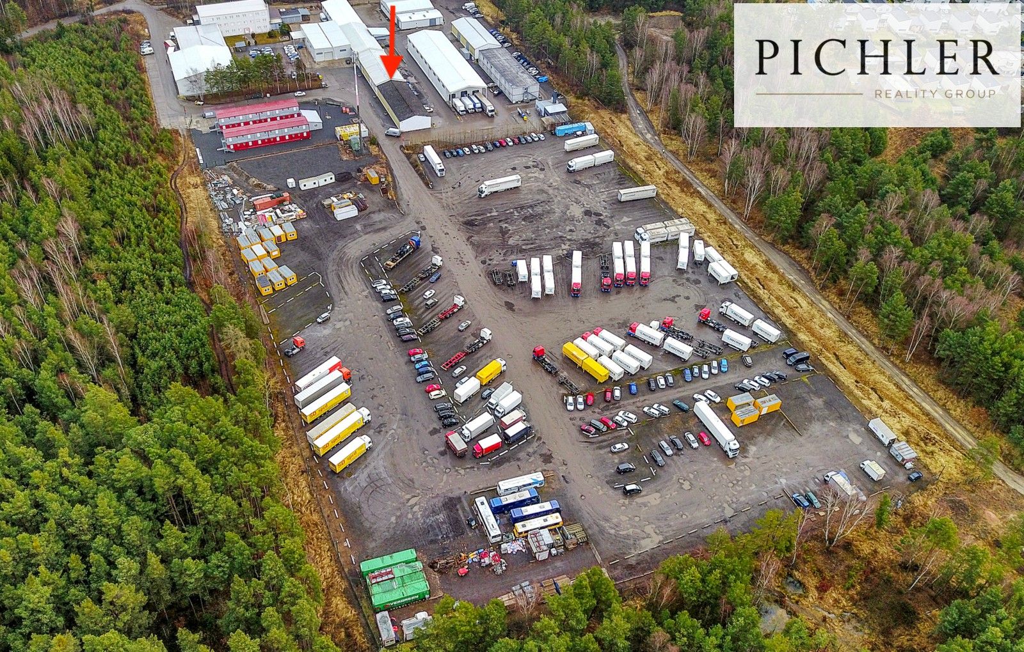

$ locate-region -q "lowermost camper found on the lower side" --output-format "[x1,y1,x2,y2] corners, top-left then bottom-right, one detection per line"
[403,616,432,637]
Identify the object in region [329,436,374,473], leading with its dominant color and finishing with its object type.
white truck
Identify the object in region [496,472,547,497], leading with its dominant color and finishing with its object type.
white bus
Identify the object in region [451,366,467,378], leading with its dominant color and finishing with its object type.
gray vehicle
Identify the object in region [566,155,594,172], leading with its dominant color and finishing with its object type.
white vehicle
